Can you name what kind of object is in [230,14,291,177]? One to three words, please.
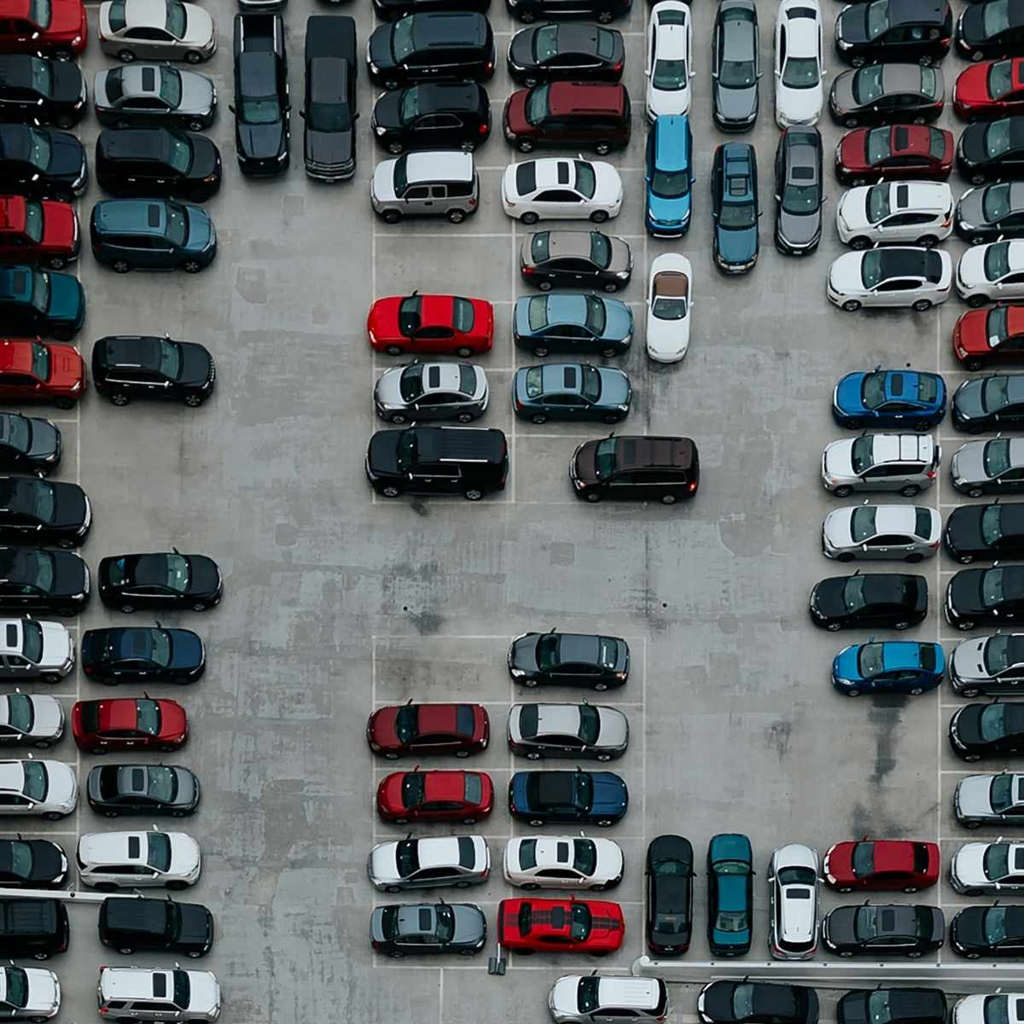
truck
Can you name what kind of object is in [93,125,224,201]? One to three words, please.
car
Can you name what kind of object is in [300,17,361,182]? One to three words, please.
truck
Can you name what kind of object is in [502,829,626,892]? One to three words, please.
car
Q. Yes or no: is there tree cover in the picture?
No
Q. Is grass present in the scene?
No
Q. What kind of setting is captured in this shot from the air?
parking lot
